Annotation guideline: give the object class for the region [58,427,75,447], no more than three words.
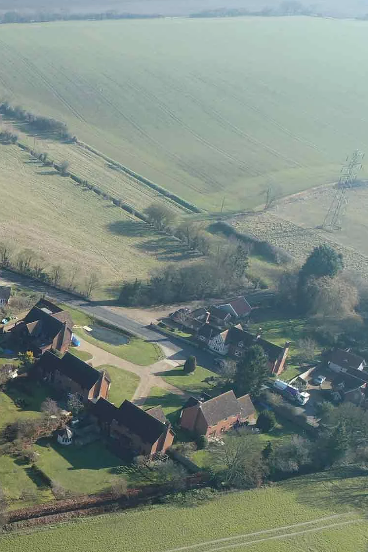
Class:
gazebo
